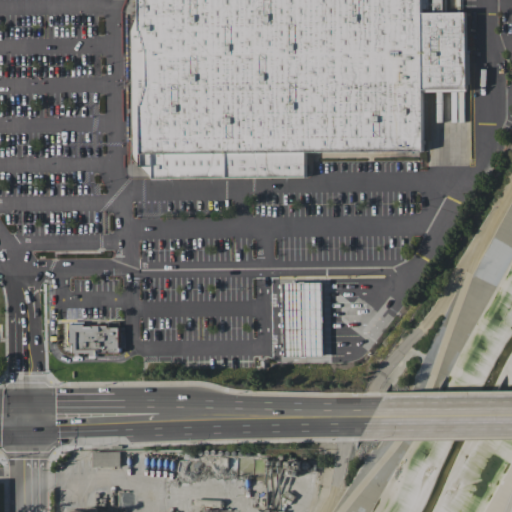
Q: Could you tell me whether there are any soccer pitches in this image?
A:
No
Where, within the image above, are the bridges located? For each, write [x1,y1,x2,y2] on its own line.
[336,386,512,448]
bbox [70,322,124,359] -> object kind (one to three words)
building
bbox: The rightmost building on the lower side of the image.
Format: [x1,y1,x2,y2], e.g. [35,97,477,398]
[285,283,324,357]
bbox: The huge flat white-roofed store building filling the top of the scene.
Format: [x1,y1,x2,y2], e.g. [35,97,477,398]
[131,0,425,178]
